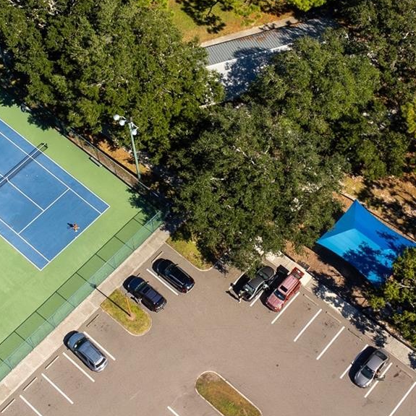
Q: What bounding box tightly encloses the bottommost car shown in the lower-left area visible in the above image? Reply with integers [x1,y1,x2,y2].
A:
[69,335,109,373]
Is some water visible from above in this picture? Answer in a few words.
No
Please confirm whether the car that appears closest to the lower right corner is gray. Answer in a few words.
Yes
